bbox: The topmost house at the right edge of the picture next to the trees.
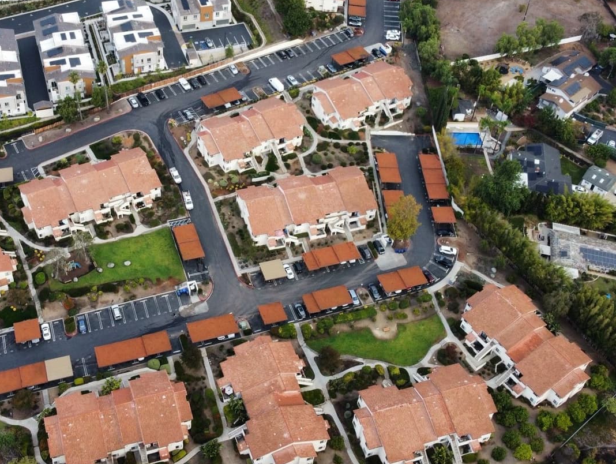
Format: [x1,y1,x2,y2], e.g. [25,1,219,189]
[524,44,593,82]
